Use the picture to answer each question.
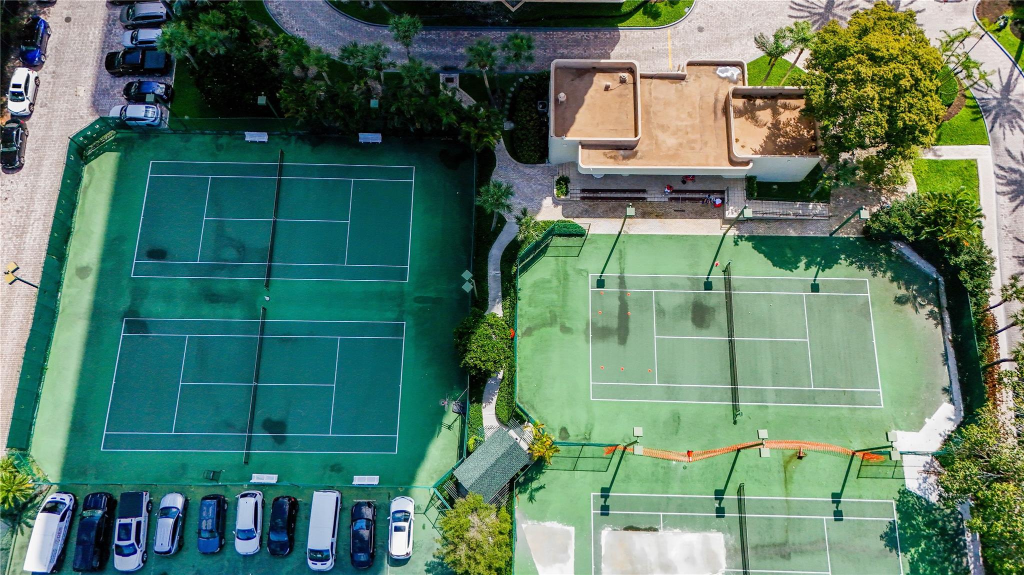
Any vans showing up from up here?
Yes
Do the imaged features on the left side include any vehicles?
Yes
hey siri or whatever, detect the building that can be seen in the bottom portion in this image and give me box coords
[440,412,536,507]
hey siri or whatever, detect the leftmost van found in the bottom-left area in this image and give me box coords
[17,492,80,575]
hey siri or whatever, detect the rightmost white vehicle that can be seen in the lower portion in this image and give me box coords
[387,497,416,560]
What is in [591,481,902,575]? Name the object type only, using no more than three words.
tennis court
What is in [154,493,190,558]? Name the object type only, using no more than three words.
car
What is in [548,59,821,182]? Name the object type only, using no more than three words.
building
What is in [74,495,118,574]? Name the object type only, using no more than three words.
truck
